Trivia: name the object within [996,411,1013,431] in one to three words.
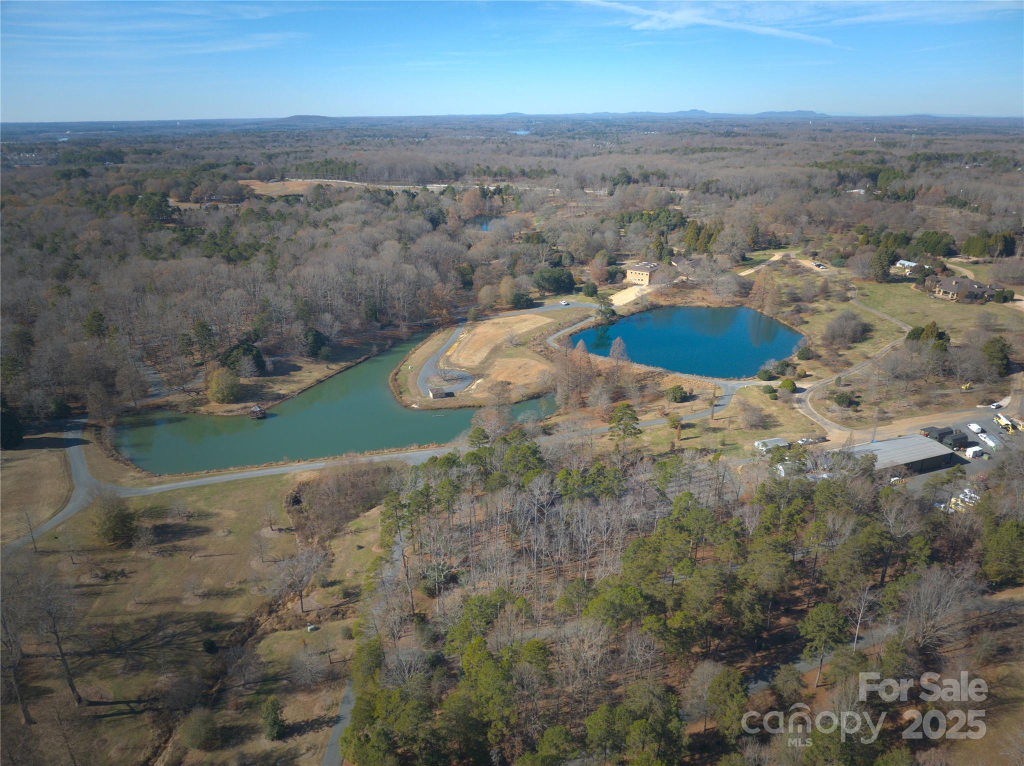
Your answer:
vehicle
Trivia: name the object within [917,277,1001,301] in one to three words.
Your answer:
house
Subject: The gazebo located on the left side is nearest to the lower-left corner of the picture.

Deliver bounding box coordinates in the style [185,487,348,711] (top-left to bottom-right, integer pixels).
[248,404,266,418]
